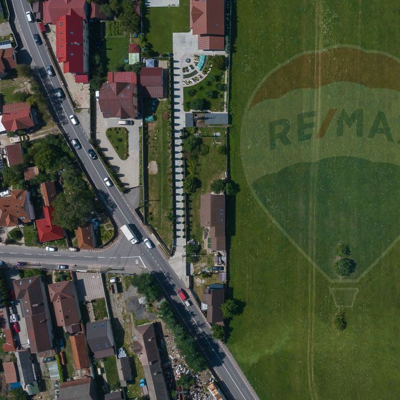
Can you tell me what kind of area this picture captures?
residential area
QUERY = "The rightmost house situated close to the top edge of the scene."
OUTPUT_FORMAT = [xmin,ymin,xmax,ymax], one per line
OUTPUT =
[190,0,226,50]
